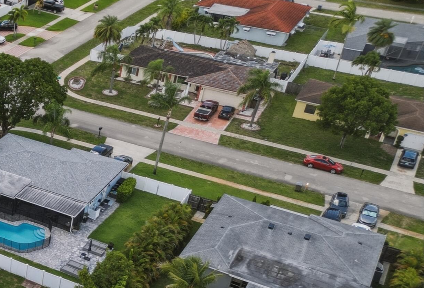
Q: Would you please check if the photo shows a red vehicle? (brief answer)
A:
Yes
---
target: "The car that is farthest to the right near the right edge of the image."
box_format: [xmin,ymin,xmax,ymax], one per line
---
[399,147,423,167]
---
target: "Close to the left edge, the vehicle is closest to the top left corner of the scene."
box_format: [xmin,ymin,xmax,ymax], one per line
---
[0,17,19,29]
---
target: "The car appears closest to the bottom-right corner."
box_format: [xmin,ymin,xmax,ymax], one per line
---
[356,199,386,228]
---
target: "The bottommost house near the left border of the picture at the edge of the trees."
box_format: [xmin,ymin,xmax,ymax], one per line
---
[0,133,130,239]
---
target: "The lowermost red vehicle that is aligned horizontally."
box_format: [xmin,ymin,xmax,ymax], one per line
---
[303,155,346,174]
